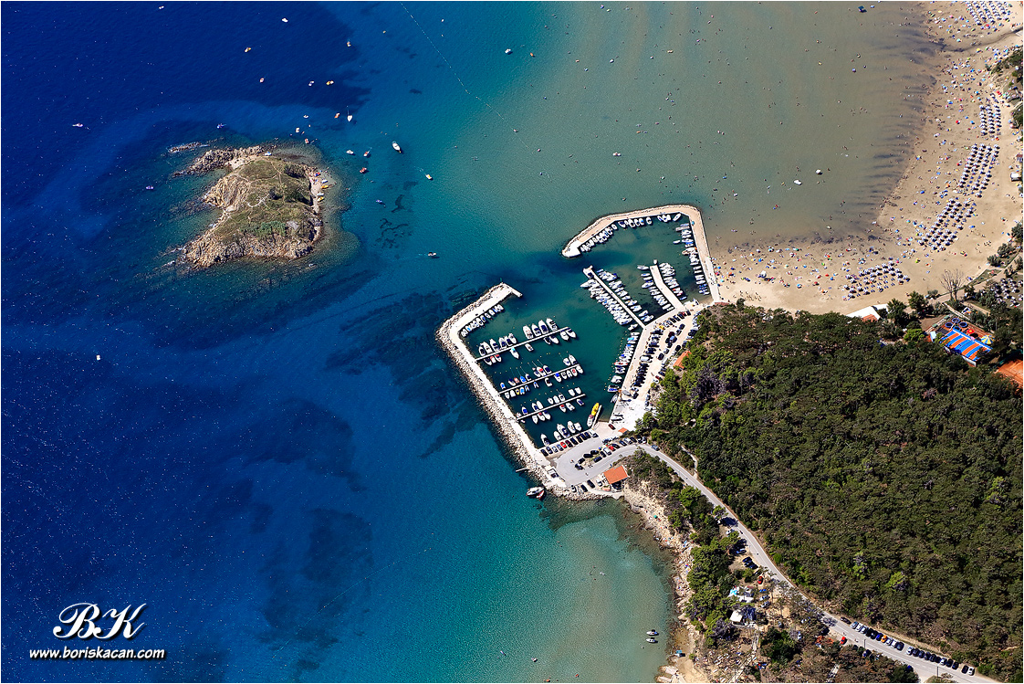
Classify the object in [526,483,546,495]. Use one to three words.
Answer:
boat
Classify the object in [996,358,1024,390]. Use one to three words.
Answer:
tennis court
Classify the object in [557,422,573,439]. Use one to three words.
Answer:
boat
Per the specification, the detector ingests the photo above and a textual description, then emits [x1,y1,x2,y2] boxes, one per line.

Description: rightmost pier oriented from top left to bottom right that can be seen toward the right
[650,265,684,310]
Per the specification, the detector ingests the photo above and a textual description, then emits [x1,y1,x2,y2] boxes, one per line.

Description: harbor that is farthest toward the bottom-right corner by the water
[535,303,713,498]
